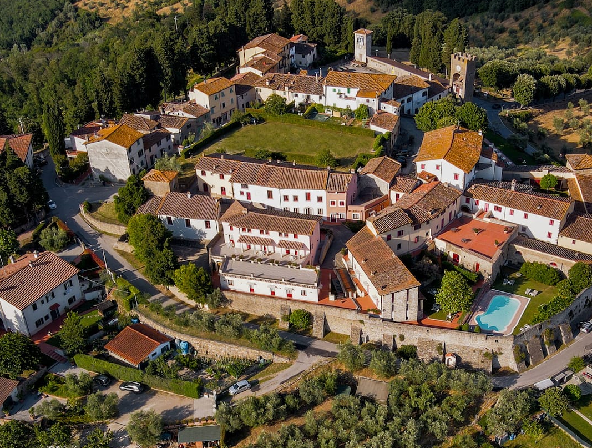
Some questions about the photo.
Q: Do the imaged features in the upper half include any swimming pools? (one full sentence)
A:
No, no swimming pool can be made out in the upper half.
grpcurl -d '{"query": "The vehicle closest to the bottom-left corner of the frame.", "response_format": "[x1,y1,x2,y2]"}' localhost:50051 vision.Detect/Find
[89,369,113,386]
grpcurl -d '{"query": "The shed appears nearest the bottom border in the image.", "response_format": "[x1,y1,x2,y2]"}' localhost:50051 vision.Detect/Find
[178,425,220,448]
